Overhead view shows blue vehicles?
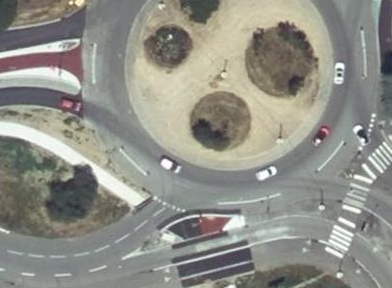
No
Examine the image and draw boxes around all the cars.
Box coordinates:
[334,62,345,84]
[60,98,83,111]
[160,156,182,174]
[256,166,278,180]
[354,125,370,146]
[312,126,331,146]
